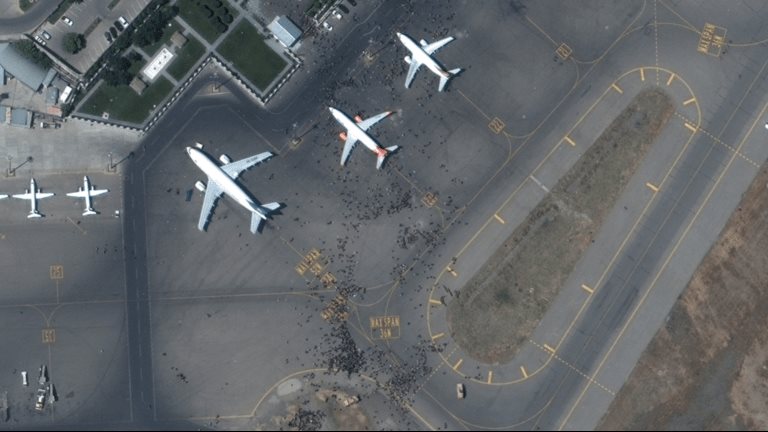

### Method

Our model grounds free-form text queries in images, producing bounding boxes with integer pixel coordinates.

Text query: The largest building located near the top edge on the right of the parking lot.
[264,15,302,50]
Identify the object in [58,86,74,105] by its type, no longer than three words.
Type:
vehicle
